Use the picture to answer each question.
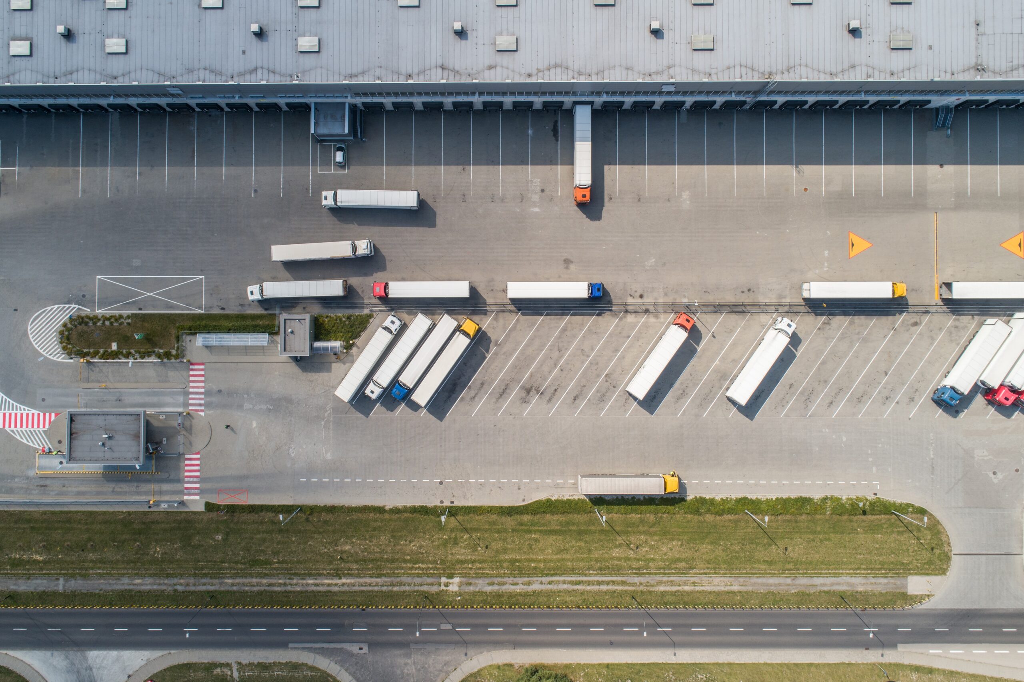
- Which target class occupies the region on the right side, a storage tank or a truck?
truck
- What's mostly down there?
paved ground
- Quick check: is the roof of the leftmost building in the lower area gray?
Yes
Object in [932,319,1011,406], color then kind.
white truck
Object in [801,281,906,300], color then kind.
white vehicle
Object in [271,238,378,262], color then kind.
white truck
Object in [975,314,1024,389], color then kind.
white trailer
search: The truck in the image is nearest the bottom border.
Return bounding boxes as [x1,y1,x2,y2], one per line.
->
[579,473,679,495]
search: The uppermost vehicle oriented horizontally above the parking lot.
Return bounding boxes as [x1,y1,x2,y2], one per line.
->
[321,189,420,209]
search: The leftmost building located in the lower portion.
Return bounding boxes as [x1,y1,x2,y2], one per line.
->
[56,410,153,469]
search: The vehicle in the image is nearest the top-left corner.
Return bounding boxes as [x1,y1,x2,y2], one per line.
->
[333,141,346,165]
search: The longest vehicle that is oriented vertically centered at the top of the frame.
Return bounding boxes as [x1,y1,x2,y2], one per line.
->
[573,105,592,207]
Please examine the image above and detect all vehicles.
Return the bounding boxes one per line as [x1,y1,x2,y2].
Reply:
[506,281,604,300]
[321,189,420,209]
[389,314,460,401]
[626,312,696,400]
[726,316,797,406]
[271,238,378,262]
[333,141,346,165]
[372,281,471,300]
[247,280,348,303]
[579,473,679,495]
[801,281,906,300]
[984,350,1024,406]
[364,312,434,401]
[935,282,1024,299]
[573,105,592,207]
[410,317,481,407]
[932,319,1011,406]
[334,312,405,402]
